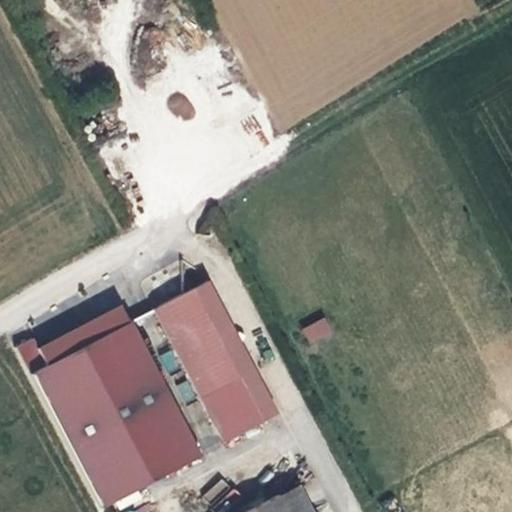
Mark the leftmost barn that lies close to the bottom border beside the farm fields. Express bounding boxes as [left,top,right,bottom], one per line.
[36,322,204,508]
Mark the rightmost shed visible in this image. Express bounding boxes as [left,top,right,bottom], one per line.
[302,318,332,345]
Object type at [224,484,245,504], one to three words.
car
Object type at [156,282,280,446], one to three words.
barn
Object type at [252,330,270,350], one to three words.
work vehicle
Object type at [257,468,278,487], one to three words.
car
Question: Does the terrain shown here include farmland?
Yes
